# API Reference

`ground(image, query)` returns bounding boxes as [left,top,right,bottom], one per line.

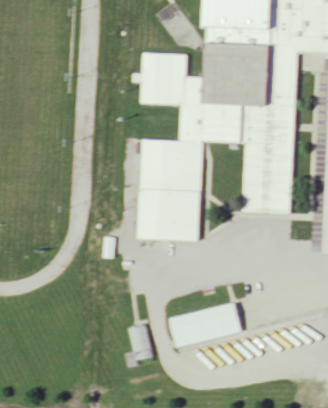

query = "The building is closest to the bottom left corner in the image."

[128,326,154,360]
